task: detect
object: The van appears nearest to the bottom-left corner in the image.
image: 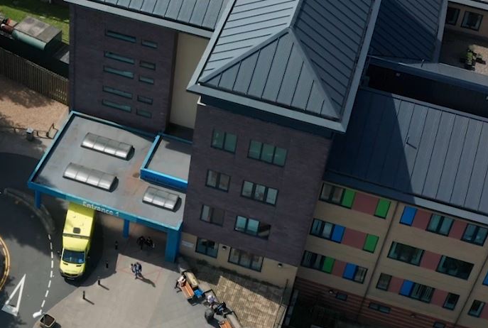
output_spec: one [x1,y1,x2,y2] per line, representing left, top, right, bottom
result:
[59,205,98,277]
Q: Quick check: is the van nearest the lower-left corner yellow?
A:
Yes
